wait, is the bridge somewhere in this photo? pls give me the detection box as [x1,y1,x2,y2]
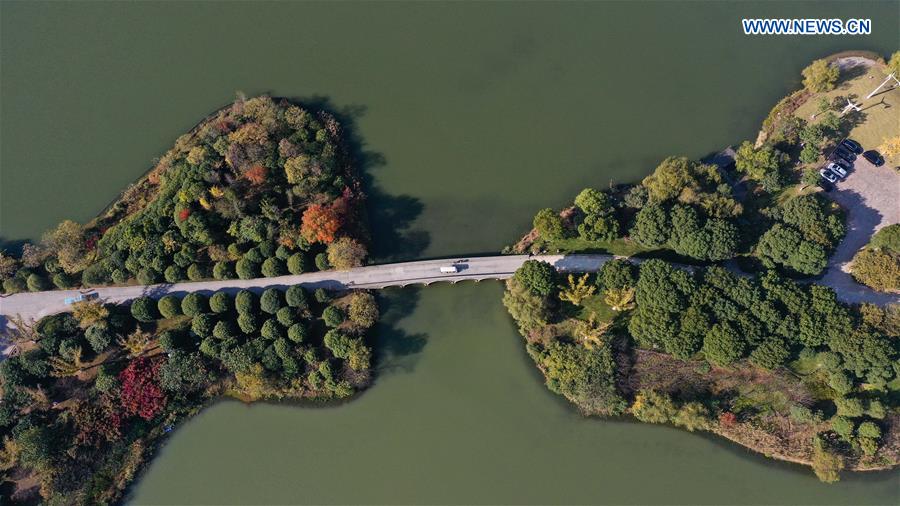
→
[357,252,522,293]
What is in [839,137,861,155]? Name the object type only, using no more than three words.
car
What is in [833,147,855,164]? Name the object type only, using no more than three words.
car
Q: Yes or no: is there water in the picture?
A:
Yes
